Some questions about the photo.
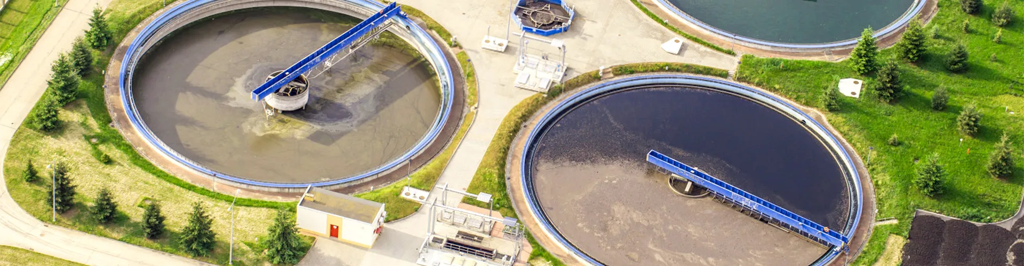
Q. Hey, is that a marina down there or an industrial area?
industrial area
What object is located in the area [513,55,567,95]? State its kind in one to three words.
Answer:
building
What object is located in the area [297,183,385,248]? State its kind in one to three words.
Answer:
building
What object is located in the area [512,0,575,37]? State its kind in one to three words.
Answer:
storage tank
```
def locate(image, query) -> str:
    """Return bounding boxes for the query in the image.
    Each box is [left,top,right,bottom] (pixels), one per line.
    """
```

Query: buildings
[513,55,567,95]
[415,210,521,266]
[297,183,385,248]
